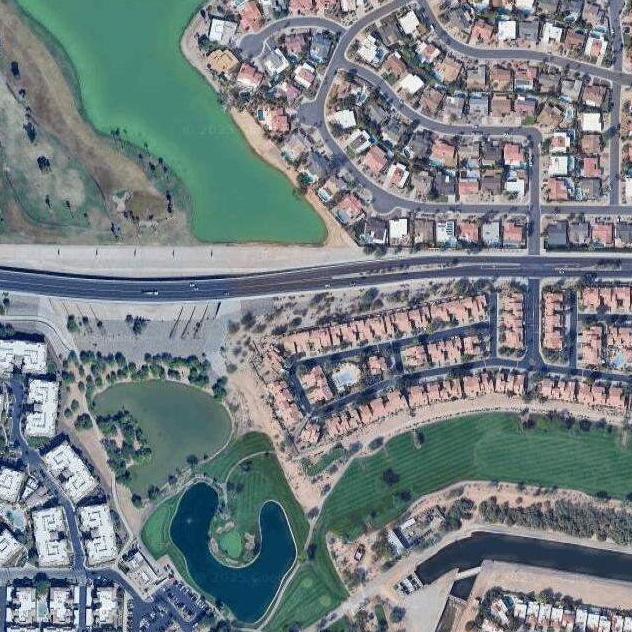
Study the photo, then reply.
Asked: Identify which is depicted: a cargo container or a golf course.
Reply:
golf course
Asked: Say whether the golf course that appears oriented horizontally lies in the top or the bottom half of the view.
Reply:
bottom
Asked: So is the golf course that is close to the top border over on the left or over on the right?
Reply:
left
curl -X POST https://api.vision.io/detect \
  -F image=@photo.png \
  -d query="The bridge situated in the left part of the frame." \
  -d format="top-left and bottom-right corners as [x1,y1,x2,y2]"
[0,263,353,303]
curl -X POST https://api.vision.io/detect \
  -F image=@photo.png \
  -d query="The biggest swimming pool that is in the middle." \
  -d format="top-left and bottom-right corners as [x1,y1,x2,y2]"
[333,364,358,386]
